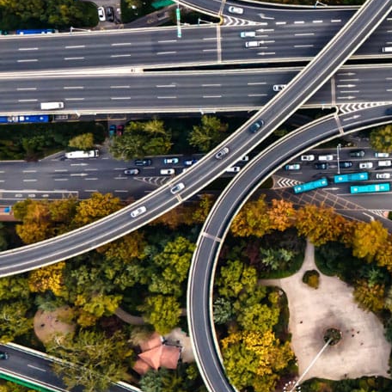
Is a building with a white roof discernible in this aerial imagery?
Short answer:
No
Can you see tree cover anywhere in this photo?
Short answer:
Yes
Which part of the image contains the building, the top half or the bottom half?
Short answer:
bottom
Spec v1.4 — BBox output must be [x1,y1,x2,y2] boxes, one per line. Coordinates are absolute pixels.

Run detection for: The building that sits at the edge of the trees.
[131,334,181,383]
